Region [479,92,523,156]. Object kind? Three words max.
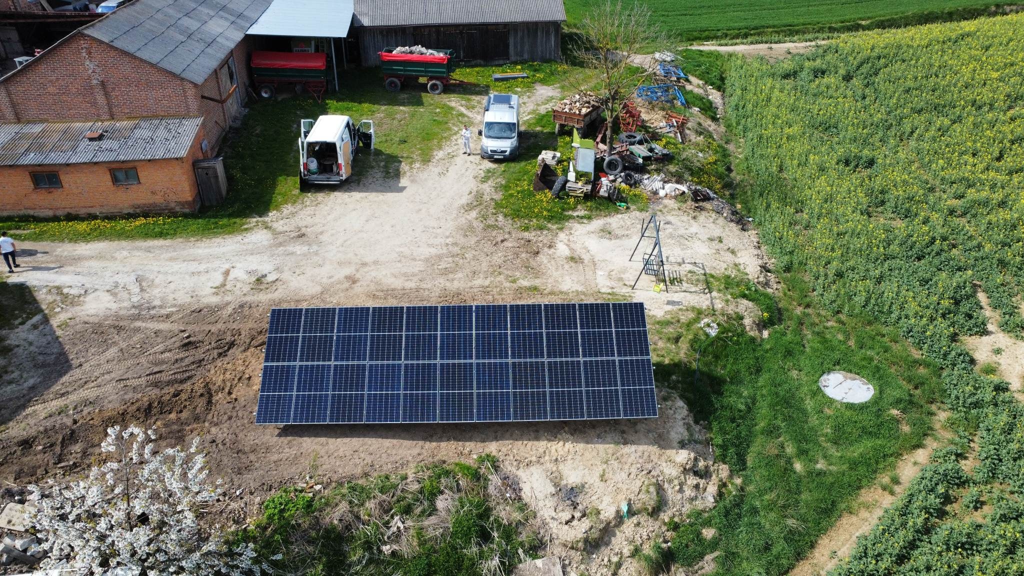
van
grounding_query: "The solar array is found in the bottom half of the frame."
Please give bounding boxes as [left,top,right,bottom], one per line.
[253,303,660,428]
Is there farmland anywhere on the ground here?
Yes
